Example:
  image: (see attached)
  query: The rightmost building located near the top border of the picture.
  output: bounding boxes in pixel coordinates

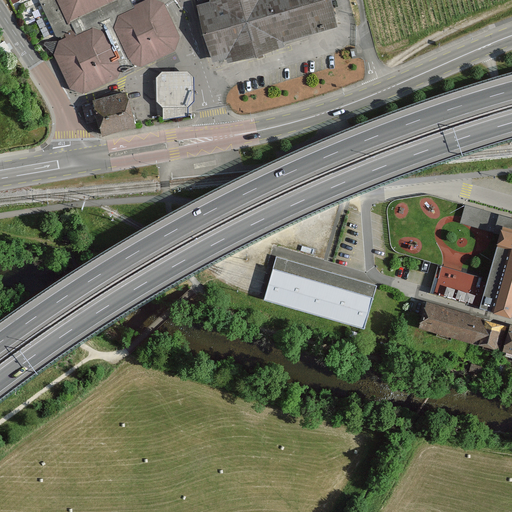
[196,0,337,62]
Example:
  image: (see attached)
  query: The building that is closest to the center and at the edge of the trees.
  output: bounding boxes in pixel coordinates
[264,257,376,329]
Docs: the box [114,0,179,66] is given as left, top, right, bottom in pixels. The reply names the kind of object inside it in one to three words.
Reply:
house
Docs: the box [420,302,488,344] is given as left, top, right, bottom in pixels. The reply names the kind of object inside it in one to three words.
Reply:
house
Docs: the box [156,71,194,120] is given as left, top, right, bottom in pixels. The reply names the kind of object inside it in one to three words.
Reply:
building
